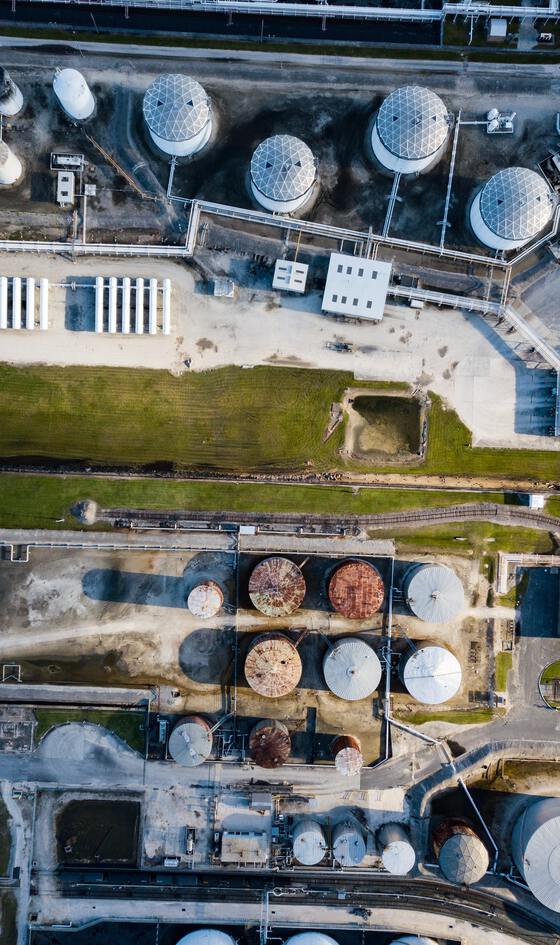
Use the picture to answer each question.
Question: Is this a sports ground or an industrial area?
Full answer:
What you see here is an industrial area.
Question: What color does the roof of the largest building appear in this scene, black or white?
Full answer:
From above, the roof of the largest building appears white.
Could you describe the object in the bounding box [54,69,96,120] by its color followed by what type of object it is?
white storage tank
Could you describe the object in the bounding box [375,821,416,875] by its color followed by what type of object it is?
white storage tank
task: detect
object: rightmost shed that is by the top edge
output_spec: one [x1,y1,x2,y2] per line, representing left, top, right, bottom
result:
[488,19,506,42]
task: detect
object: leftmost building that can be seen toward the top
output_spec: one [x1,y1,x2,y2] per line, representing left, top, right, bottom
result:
[58,172,77,212]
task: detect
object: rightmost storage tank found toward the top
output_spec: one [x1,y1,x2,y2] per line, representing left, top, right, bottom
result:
[470,165,556,253]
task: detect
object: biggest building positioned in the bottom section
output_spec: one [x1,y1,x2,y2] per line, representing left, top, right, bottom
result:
[221,822,268,863]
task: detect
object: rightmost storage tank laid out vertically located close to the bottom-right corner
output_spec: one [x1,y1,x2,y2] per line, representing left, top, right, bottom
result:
[511,796,560,911]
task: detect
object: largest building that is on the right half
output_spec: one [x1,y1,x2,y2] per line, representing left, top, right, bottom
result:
[321,253,392,324]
